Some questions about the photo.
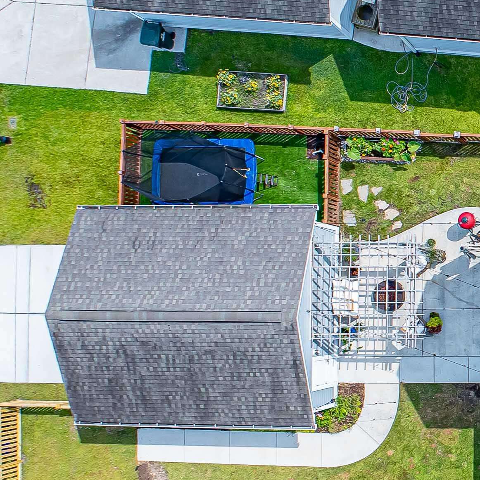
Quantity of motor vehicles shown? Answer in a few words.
0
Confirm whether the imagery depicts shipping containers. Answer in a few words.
No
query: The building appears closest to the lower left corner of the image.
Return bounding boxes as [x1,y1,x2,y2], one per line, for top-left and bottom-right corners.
[42,201,338,430]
